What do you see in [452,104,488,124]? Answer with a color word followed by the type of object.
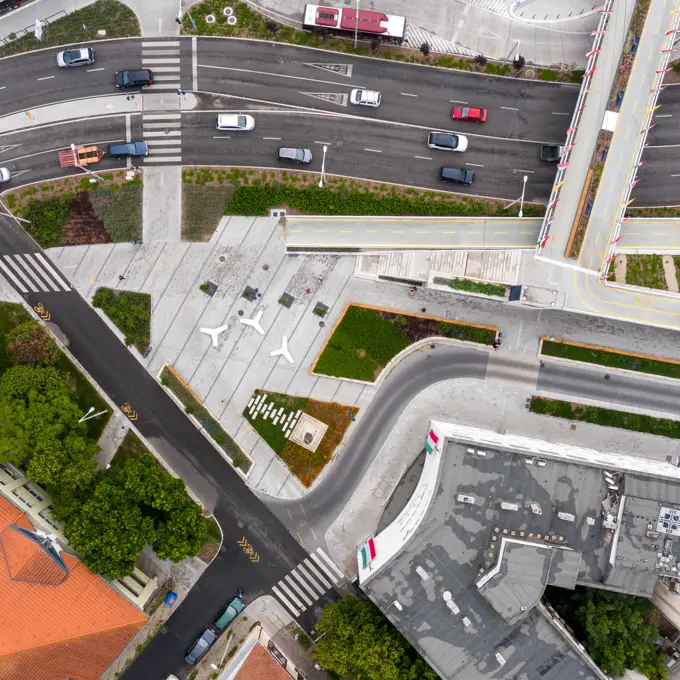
red car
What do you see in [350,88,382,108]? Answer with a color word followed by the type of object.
white car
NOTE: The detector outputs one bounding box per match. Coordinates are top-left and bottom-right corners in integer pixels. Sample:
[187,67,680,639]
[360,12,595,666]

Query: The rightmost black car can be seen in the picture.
[537,143,562,162]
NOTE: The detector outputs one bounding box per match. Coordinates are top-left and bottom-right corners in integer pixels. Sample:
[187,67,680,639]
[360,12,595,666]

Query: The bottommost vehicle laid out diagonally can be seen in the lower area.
[183,627,219,666]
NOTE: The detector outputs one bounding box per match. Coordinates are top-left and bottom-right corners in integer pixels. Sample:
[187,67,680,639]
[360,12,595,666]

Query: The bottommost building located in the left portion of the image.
[212,619,307,680]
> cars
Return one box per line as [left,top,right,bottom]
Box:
[58,48,97,70]
[439,166,474,186]
[216,112,256,133]
[210,594,247,631]
[278,146,313,165]
[350,88,382,108]
[537,143,562,162]
[452,104,488,124]
[428,131,468,153]
[183,627,219,666]
[108,139,150,160]
[116,68,155,90]
[0,166,13,183]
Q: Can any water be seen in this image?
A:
No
